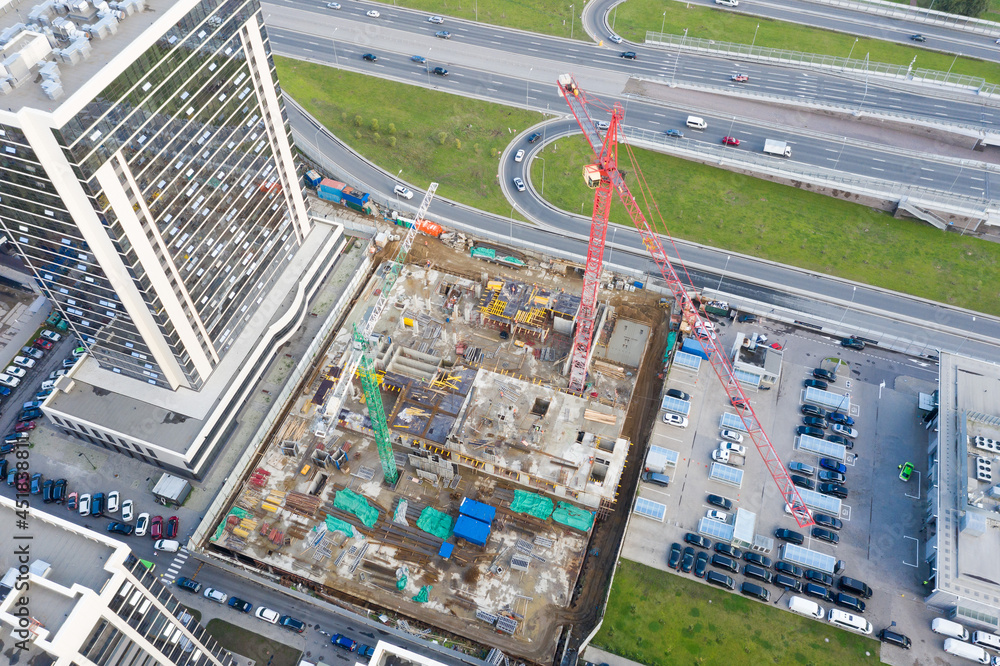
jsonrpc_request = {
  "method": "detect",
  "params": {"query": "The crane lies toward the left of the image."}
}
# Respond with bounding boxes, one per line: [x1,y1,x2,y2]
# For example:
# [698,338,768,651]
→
[318,187,438,485]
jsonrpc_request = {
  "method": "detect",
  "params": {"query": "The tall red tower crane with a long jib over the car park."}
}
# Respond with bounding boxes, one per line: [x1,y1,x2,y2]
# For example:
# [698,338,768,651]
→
[553,82,815,530]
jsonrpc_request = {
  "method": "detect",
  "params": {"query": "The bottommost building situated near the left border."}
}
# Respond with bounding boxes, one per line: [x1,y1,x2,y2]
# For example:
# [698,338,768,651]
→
[0,494,214,666]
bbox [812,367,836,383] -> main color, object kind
black car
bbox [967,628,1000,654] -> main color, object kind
white vehicle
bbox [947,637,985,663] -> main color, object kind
white vehicle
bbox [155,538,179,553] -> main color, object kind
white car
